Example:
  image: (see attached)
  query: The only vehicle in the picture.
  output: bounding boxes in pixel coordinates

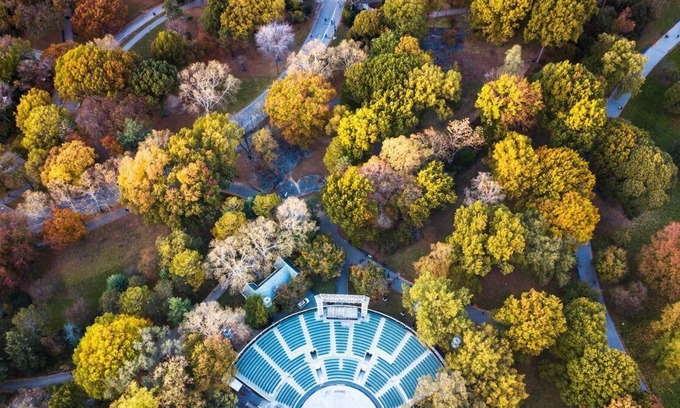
[296,296,311,309]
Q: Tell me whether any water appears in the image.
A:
No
